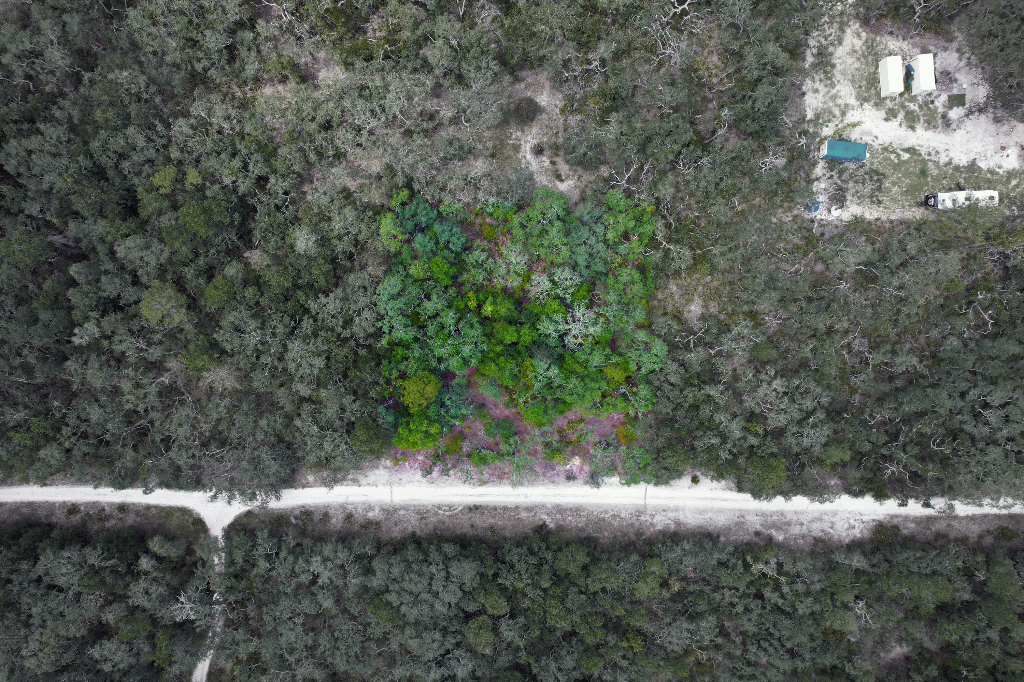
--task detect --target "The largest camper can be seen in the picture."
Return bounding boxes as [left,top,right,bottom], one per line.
[910,190,998,211]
